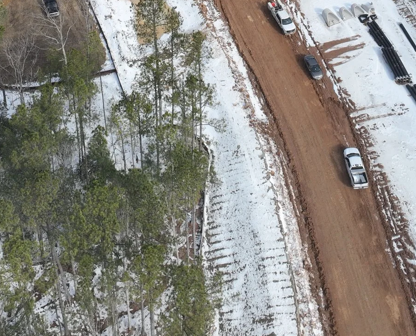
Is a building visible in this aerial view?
No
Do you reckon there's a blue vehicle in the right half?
No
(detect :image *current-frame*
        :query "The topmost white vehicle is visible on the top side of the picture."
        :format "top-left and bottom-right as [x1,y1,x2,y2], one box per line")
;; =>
[271,1,296,34]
